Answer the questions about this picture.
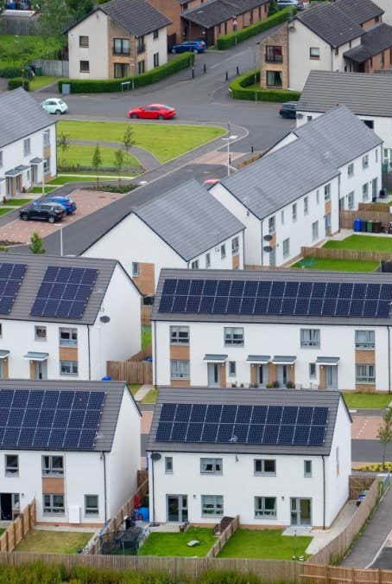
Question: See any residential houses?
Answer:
Yes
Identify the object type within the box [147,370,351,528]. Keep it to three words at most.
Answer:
house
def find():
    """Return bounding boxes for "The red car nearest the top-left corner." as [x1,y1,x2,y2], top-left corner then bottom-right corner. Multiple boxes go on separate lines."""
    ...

[128,101,174,118]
